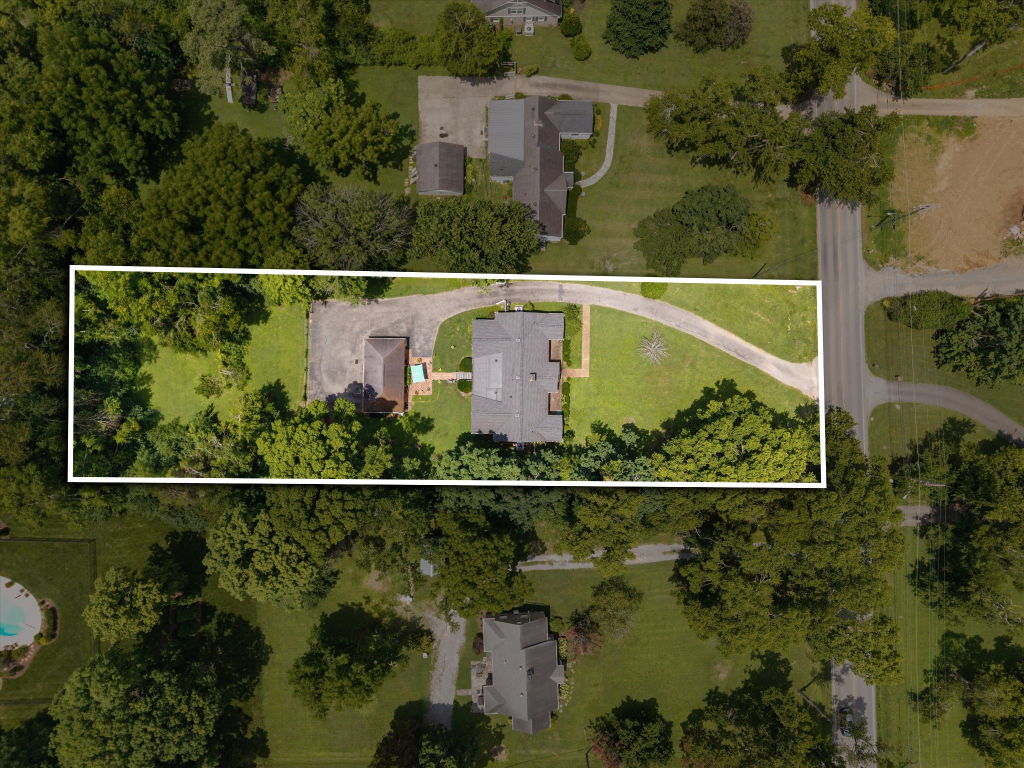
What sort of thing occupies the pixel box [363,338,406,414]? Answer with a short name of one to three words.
building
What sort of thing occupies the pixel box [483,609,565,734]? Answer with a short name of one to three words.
house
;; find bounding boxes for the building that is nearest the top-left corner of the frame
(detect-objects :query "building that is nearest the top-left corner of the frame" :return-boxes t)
[417,140,464,197]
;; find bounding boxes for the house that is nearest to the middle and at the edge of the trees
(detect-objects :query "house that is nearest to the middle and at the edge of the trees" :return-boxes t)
[471,312,568,443]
